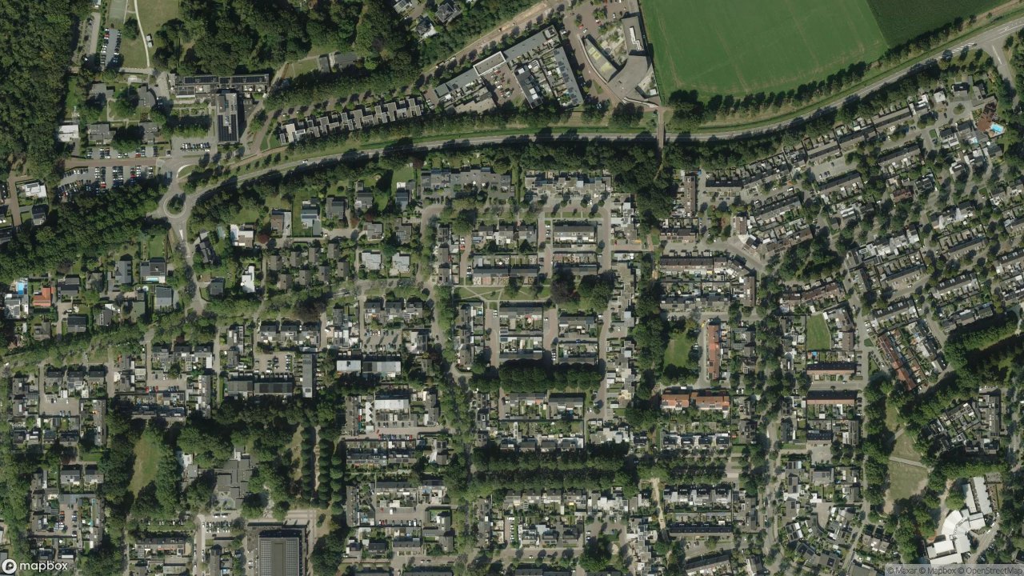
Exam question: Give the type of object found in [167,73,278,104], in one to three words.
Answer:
house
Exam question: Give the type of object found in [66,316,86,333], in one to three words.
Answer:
house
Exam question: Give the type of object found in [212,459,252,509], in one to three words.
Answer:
building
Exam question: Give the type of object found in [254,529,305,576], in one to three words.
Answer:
building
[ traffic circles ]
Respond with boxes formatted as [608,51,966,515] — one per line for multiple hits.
[160,189,193,222]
